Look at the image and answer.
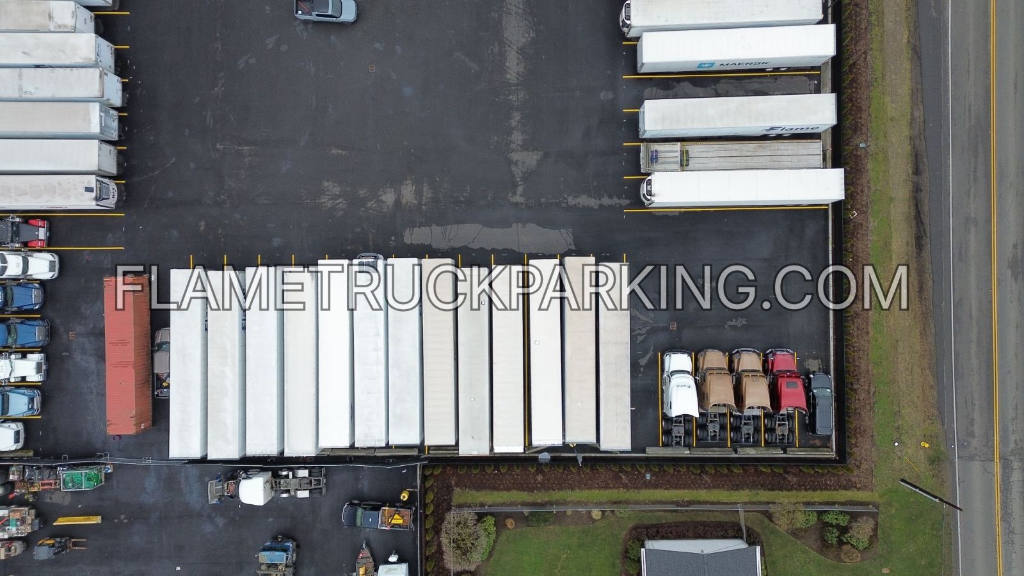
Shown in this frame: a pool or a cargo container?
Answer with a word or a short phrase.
cargo container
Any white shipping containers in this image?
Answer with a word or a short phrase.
No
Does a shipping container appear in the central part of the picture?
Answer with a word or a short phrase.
No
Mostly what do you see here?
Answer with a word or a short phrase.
paved ground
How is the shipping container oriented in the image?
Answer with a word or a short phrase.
vertically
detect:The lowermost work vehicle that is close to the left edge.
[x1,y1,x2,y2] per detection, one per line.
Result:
[26,540,87,565]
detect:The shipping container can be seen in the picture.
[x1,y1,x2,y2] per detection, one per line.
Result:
[105,277,153,434]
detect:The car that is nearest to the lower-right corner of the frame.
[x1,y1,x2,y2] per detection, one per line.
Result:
[806,374,837,437]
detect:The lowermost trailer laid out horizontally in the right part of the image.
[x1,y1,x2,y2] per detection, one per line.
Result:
[641,169,845,207]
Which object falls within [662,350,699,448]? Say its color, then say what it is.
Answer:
white truck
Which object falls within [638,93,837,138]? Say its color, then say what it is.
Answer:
white trailer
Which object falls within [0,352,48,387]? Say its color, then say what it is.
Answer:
white truck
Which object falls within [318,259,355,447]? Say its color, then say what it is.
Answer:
white trailer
